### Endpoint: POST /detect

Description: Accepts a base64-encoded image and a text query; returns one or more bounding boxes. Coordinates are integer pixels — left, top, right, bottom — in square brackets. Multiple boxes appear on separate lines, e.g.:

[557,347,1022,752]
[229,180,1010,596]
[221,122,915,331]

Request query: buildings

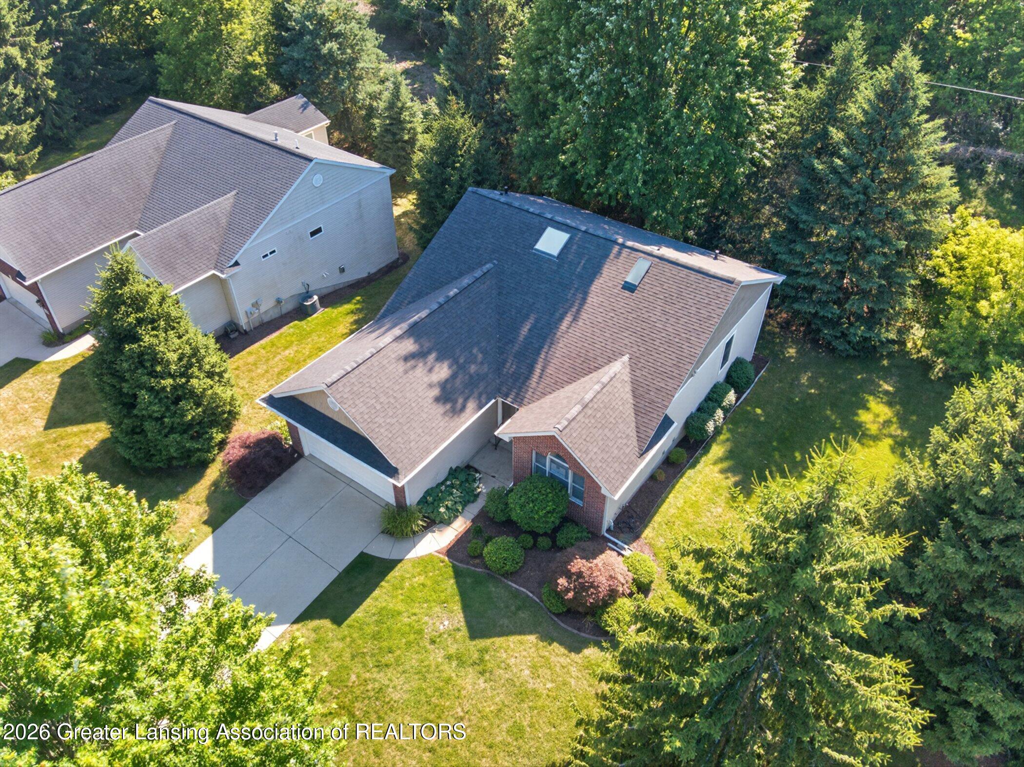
[0,94,396,346]
[253,184,787,553]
